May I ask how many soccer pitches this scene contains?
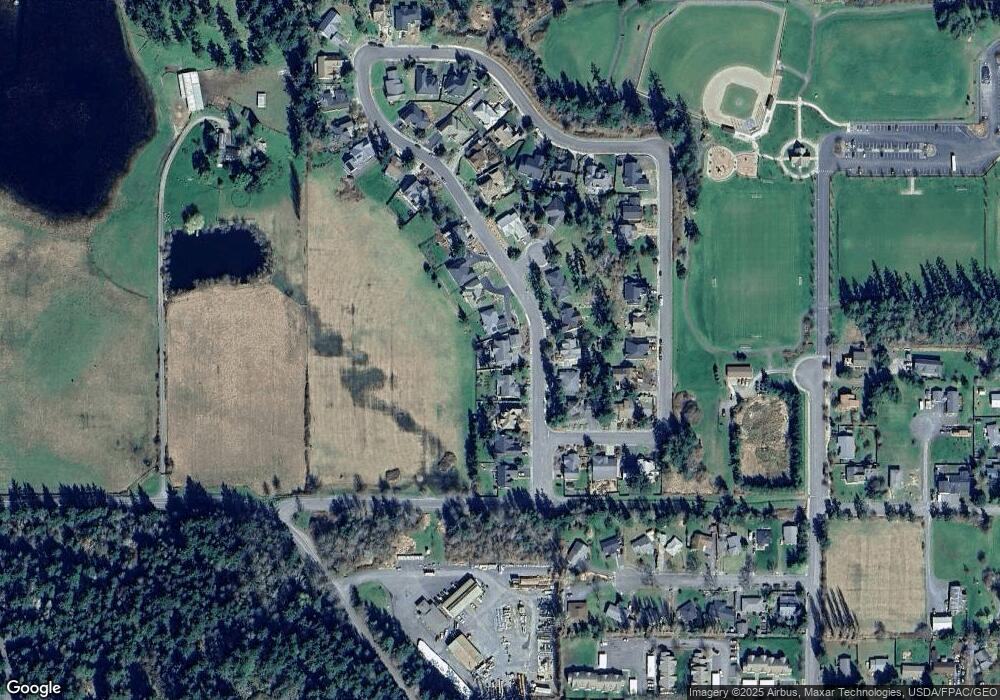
two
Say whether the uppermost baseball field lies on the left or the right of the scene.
right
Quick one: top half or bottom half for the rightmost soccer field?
top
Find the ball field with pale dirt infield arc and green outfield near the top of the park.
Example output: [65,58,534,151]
[636,0,785,134]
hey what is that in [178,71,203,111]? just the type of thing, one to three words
barn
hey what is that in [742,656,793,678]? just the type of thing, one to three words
building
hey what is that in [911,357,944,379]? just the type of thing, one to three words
house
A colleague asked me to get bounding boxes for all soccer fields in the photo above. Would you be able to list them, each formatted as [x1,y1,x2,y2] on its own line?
[687,181,811,346]
[839,178,984,290]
